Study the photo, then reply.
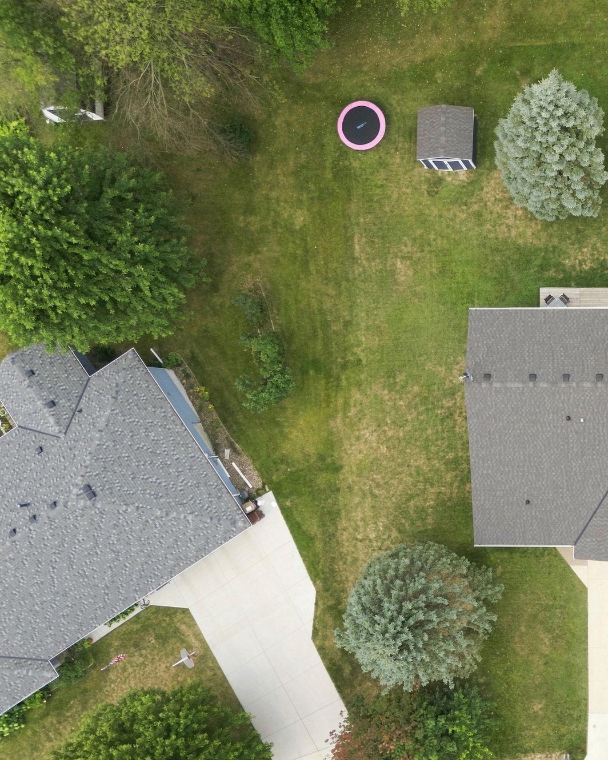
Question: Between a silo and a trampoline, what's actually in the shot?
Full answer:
There is a trampoline in the scene.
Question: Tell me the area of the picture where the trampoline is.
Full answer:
The trampoline appears toward the top of the photo.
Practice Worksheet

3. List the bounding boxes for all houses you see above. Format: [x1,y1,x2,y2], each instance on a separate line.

[459,305,608,563]
[0,330,258,715]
